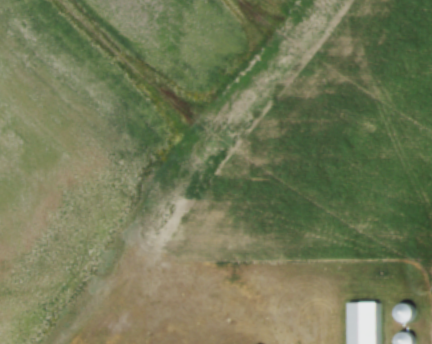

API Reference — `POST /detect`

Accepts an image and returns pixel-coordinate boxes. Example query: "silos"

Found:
[392,332,418,344]
[392,304,418,326]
